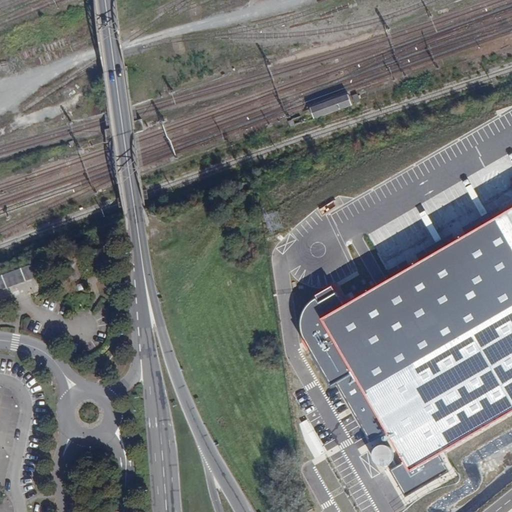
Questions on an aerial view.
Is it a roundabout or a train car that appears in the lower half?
roundabout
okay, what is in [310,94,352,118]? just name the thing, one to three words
shed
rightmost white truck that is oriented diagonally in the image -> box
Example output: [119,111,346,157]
[463,180,488,216]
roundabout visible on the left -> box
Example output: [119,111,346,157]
[56,380,116,440]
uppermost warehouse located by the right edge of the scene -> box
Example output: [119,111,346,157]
[320,204,512,467]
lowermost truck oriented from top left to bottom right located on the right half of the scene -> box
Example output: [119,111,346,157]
[420,210,444,246]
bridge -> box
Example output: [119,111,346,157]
[93,0,148,206]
